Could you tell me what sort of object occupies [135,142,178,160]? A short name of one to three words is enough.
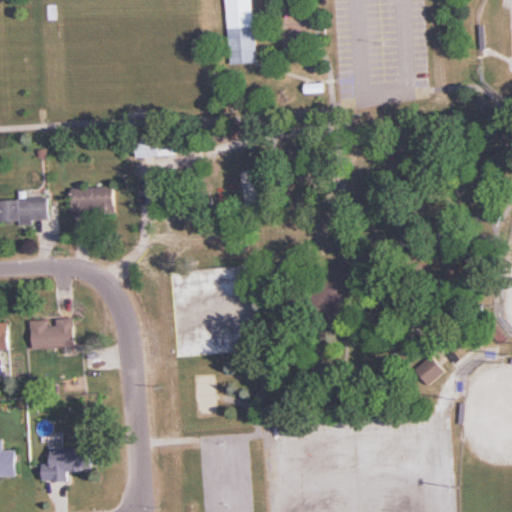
shed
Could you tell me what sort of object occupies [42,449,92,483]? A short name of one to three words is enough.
house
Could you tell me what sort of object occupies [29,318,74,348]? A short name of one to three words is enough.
house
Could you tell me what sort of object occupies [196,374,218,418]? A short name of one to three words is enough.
sports court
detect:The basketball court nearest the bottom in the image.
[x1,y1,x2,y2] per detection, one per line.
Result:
[202,436,254,512]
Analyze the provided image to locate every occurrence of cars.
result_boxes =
[46,482,50,494]
[65,299,70,311]
[36,222,42,232]
[416,72,428,78]
[61,485,66,496]
[94,362,105,368]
